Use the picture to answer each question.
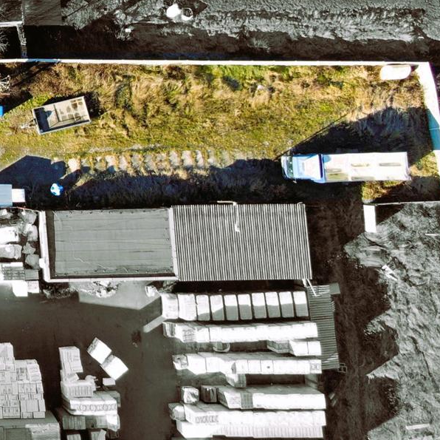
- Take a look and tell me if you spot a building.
Yes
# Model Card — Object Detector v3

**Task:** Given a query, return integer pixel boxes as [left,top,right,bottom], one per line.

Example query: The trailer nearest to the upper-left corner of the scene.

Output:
[24,95,95,136]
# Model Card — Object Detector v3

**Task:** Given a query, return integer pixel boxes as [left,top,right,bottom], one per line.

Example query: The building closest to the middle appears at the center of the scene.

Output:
[159,201,315,296]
